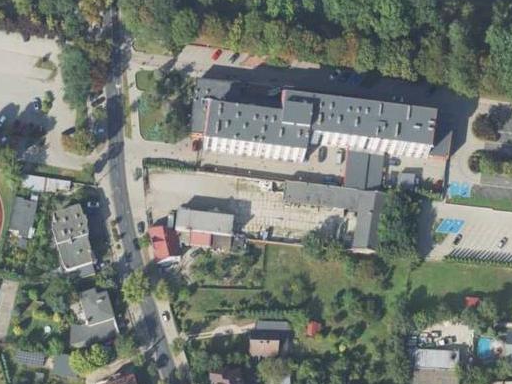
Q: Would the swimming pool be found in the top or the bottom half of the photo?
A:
bottom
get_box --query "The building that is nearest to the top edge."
[190,78,450,165]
